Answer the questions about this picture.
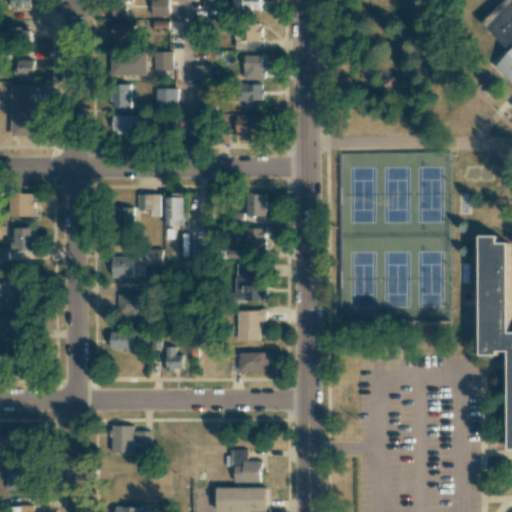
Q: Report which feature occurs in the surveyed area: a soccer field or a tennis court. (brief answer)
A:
tennis court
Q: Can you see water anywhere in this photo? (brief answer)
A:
No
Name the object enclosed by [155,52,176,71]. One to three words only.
building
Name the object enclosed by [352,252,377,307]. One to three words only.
tennis court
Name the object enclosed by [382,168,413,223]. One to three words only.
tennis court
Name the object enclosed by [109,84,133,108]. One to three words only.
house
